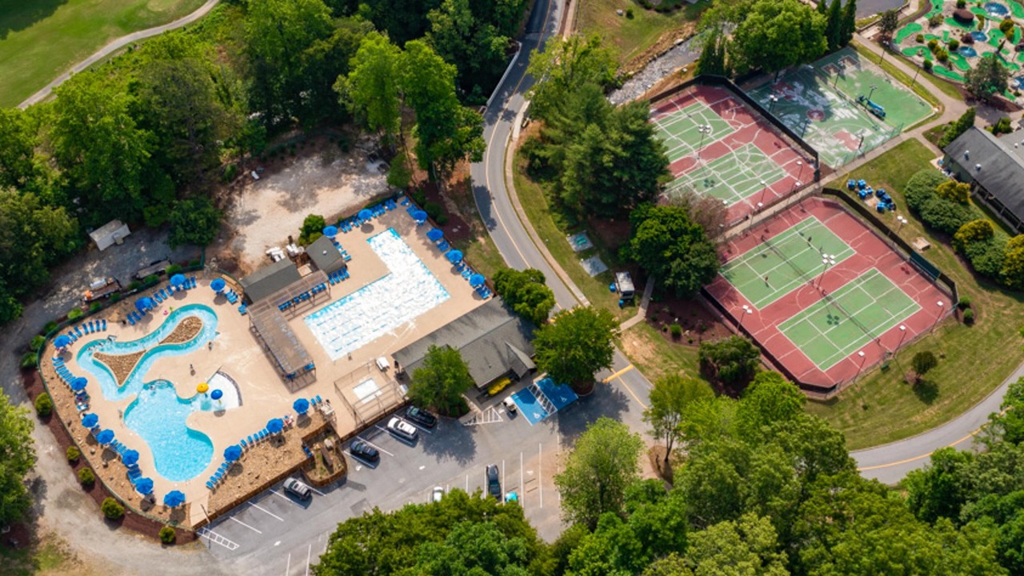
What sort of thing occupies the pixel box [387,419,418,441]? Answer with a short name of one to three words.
car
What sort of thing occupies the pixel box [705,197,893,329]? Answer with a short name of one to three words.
tennis court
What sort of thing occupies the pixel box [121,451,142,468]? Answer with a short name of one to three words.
umbrella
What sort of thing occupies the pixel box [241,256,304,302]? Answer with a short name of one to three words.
building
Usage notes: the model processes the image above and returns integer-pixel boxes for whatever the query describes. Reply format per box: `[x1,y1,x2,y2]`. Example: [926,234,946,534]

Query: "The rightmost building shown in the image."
[940,127,1024,237]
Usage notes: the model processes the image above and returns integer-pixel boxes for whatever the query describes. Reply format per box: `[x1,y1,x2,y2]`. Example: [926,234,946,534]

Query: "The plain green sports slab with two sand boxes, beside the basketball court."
[819,46,938,131]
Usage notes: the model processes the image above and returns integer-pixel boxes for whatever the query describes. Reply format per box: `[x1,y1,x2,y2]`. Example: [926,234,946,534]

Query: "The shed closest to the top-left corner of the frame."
[89,222,132,258]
